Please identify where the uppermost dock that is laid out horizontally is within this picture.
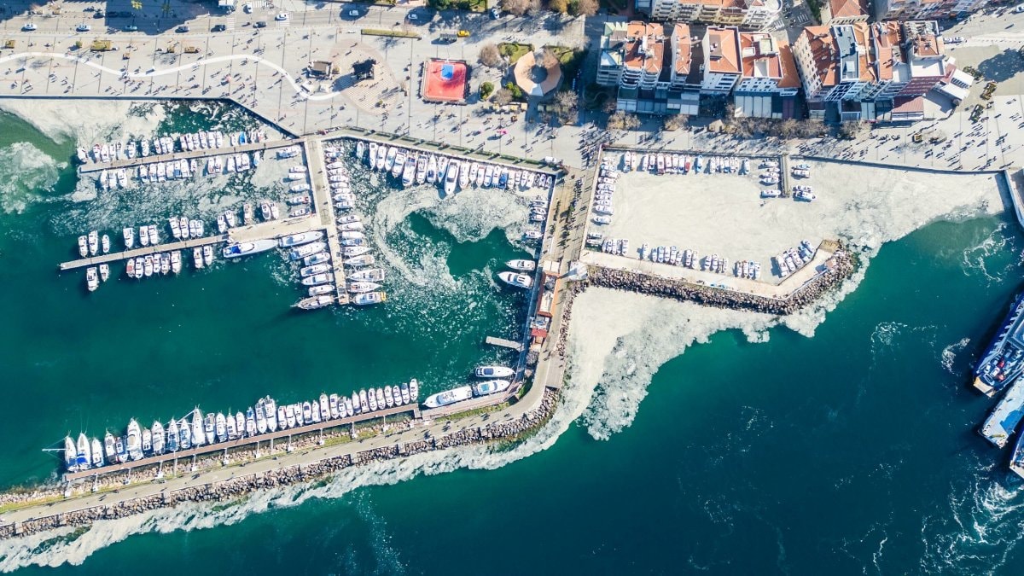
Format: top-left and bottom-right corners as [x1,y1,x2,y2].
[79,139,304,173]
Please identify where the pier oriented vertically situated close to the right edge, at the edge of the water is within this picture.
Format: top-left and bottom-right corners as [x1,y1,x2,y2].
[998,170,1024,237]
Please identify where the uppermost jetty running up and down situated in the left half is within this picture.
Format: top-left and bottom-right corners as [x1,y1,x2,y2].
[305,138,337,228]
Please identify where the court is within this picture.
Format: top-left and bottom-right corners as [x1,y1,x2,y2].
[422,56,468,101]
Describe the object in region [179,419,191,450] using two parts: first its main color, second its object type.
white boat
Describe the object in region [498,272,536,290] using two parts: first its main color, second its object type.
white boat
